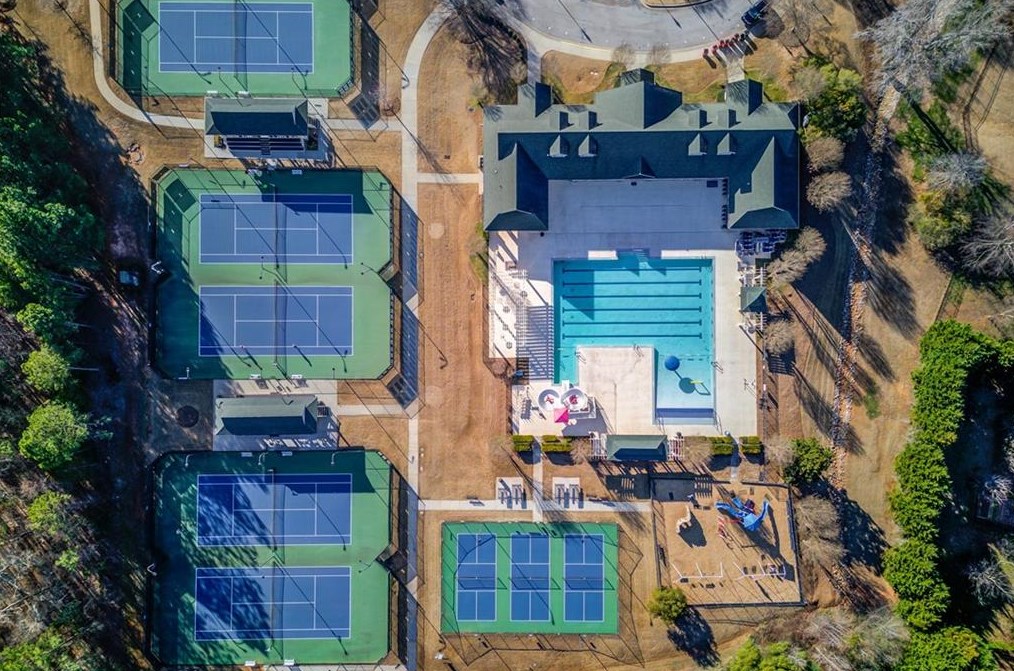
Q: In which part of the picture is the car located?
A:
top right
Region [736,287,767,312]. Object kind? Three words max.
building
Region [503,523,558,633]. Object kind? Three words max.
sports court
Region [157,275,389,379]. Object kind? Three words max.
tennis court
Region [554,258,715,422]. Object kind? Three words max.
swimming pool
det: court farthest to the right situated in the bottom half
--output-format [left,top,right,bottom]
[558,523,618,633]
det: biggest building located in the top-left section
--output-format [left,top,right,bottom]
[204,98,313,141]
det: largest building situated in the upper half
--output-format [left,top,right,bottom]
[483,69,808,232]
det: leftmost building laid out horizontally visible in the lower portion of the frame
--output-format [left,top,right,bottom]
[216,397,322,435]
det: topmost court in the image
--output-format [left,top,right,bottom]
[119,0,352,96]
